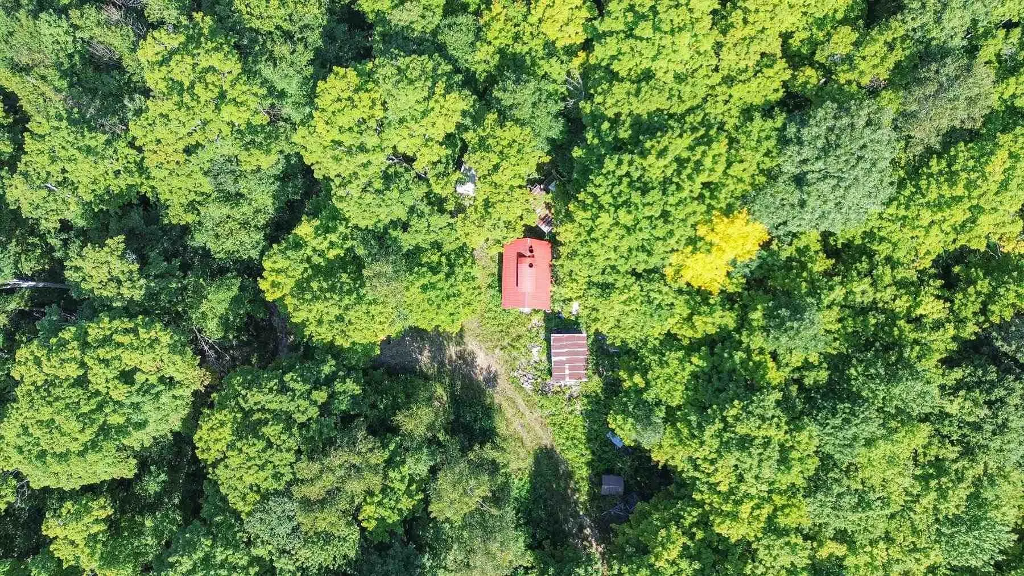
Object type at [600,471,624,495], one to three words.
shed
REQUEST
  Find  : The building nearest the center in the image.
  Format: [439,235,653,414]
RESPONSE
[502,238,552,313]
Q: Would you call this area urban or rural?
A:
rural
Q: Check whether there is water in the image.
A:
No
